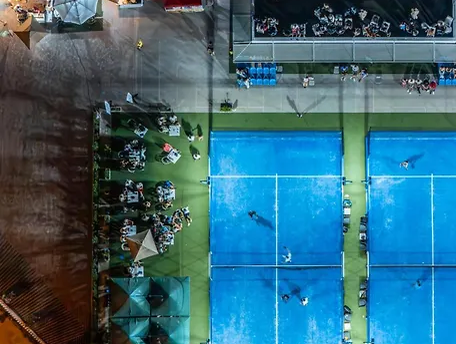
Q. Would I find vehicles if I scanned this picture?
No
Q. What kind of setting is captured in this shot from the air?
sports ground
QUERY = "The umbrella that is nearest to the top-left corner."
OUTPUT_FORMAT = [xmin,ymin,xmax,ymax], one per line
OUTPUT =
[8,5,36,35]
